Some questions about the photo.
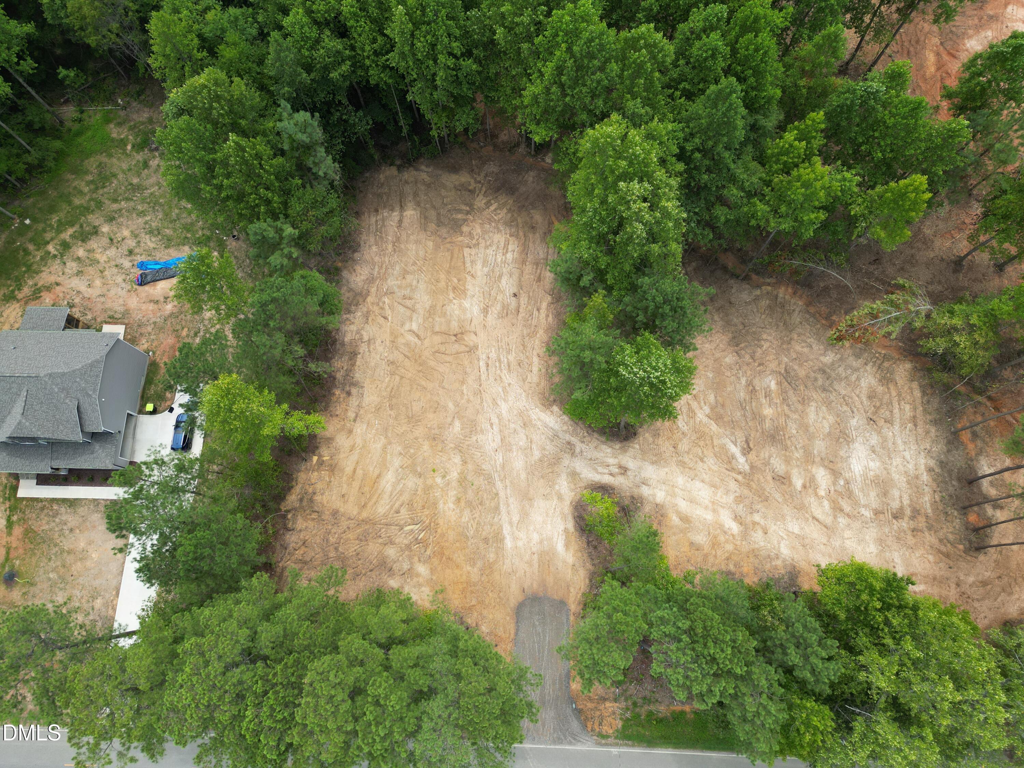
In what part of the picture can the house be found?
left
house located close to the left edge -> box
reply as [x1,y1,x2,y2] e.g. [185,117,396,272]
[0,306,150,479]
